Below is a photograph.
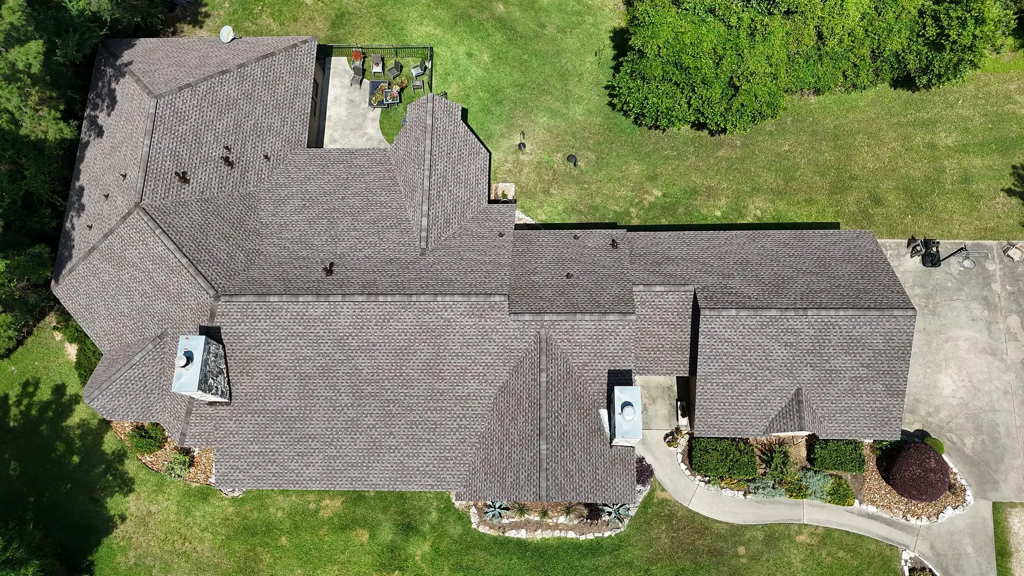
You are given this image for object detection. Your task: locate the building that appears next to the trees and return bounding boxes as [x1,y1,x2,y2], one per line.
[51,36,919,503]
